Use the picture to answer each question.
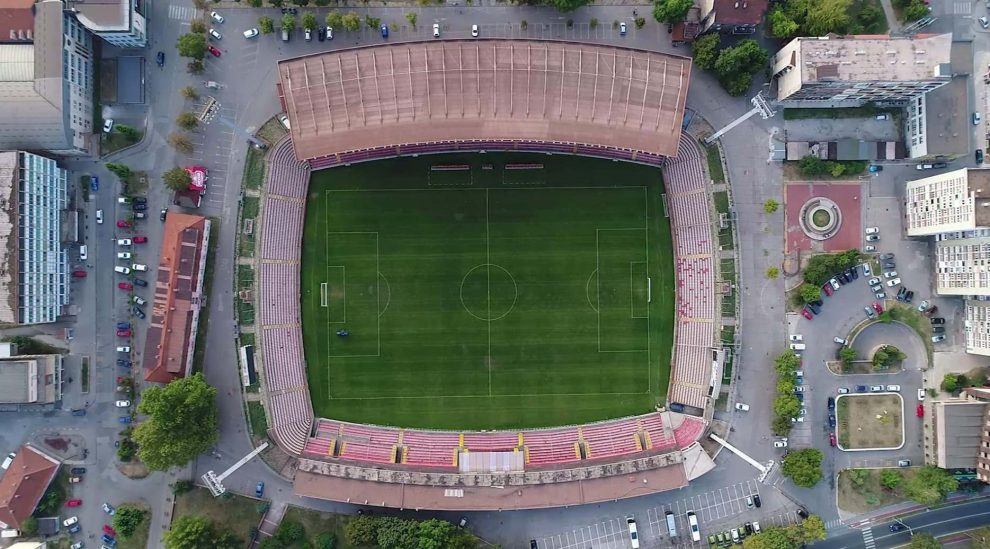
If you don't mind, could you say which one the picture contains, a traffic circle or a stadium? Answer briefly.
stadium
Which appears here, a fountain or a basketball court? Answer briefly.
fountain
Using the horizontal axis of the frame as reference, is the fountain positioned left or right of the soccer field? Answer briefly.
right of it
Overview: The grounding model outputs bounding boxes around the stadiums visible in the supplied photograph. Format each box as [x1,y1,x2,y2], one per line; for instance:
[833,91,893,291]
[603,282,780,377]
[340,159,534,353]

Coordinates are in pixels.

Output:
[259,39,716,512]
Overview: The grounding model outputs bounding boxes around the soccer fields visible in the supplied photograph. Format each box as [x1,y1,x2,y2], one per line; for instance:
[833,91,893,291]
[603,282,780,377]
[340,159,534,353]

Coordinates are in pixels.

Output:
[300,151,676,432]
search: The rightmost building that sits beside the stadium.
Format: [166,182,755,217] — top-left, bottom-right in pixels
[771,35,954,106]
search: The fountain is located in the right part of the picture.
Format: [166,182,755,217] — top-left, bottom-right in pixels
[800,196,842,240]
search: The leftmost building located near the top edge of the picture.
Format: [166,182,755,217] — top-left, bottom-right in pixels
[0,0,101,161]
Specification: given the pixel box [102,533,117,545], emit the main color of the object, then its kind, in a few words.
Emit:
blue vehicle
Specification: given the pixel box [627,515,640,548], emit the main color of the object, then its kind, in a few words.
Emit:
white vehicle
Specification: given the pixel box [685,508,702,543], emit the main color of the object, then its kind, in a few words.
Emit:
white vehicle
